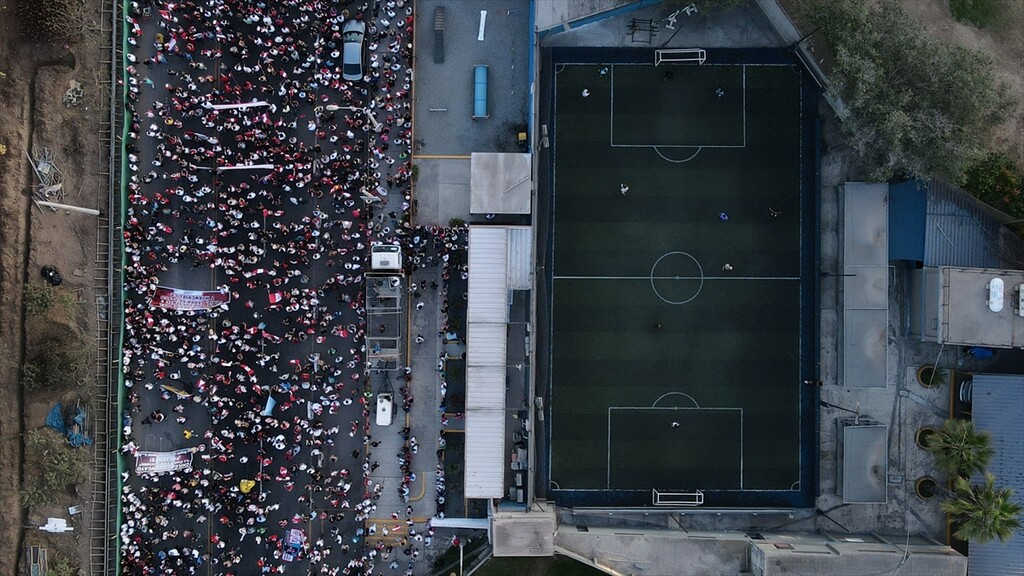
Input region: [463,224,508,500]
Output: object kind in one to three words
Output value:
building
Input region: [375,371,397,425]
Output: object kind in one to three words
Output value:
trailer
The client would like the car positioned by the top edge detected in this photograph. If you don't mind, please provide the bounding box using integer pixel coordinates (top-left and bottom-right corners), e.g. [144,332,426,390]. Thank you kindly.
[339,18,368,81]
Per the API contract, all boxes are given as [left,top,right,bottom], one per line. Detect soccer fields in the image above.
[544,48,823,508]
